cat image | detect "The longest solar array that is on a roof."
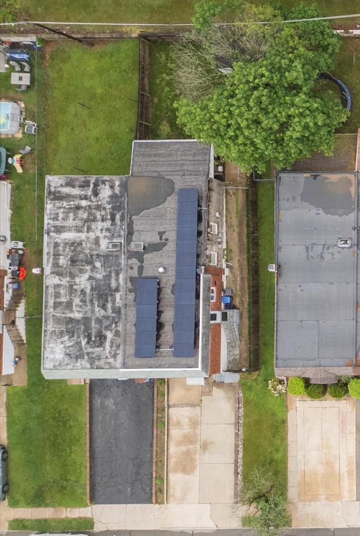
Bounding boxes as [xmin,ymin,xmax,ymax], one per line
[172,189,199,357]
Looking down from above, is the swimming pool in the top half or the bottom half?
top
